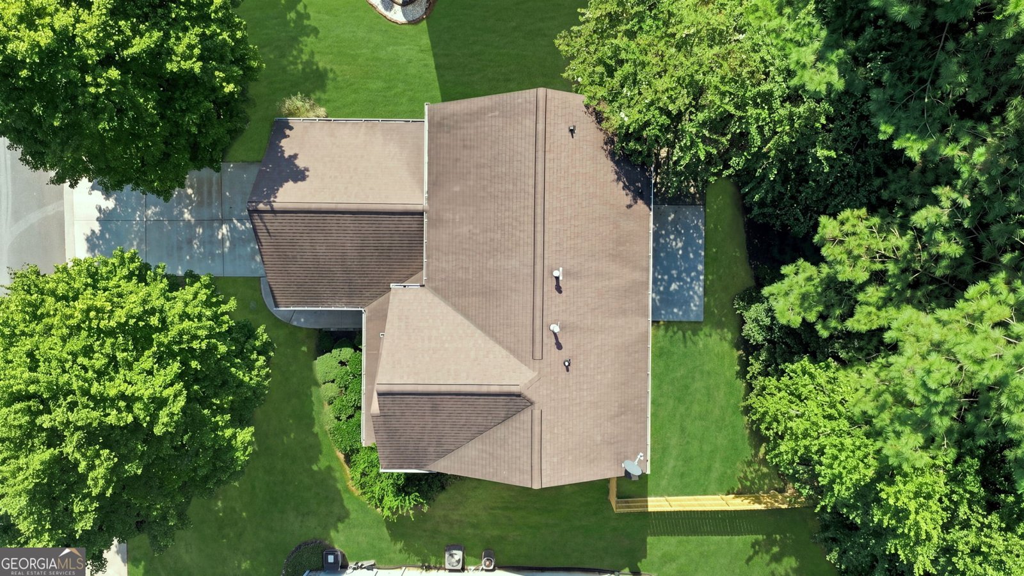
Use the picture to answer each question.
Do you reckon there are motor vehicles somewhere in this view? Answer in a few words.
No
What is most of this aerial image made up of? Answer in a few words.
trees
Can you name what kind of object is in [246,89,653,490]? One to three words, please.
house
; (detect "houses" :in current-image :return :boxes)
[299,565,643,576]
[246,89,653,490]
